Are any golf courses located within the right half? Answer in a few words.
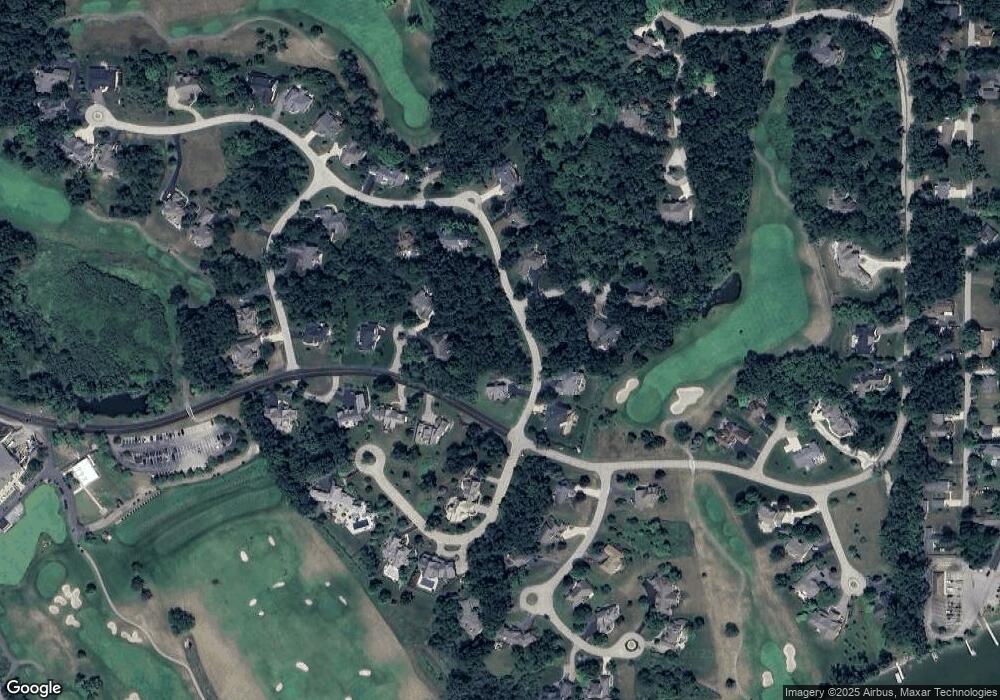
Yes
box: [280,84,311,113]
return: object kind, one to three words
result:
house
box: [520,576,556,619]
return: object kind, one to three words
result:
roundabout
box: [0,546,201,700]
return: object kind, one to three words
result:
golf course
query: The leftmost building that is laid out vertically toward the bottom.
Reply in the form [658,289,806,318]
[0,426,36,502]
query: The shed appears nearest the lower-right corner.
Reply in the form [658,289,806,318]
[934,571,947,597]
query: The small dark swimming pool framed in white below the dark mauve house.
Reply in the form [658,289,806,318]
[417,575,438,592]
